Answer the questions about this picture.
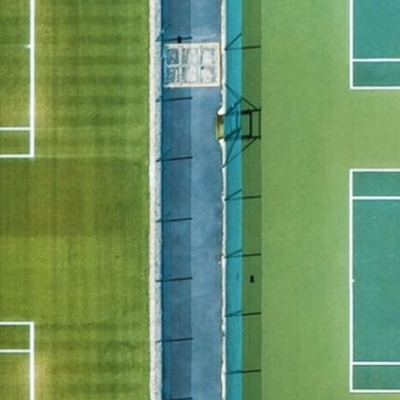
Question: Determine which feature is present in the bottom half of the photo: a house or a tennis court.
tennis court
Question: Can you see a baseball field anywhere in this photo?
No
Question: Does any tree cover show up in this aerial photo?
No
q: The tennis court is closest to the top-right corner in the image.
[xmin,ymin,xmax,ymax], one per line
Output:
[349,0,400,89]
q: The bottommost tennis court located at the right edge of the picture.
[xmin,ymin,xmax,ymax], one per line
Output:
[349,168,400,393]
